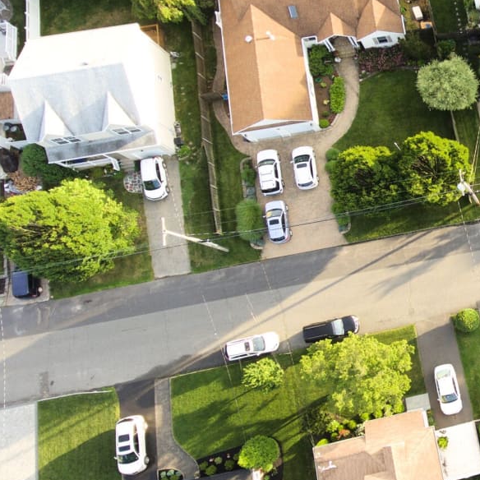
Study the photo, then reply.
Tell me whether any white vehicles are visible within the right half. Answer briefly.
Yes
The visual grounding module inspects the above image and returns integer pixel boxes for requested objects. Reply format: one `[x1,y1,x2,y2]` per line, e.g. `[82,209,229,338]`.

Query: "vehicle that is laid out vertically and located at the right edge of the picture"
[434,363,462,417]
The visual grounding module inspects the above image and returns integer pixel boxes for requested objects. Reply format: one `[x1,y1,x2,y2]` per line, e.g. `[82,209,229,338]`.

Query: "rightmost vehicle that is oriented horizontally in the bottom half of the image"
[301,315,362,346]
